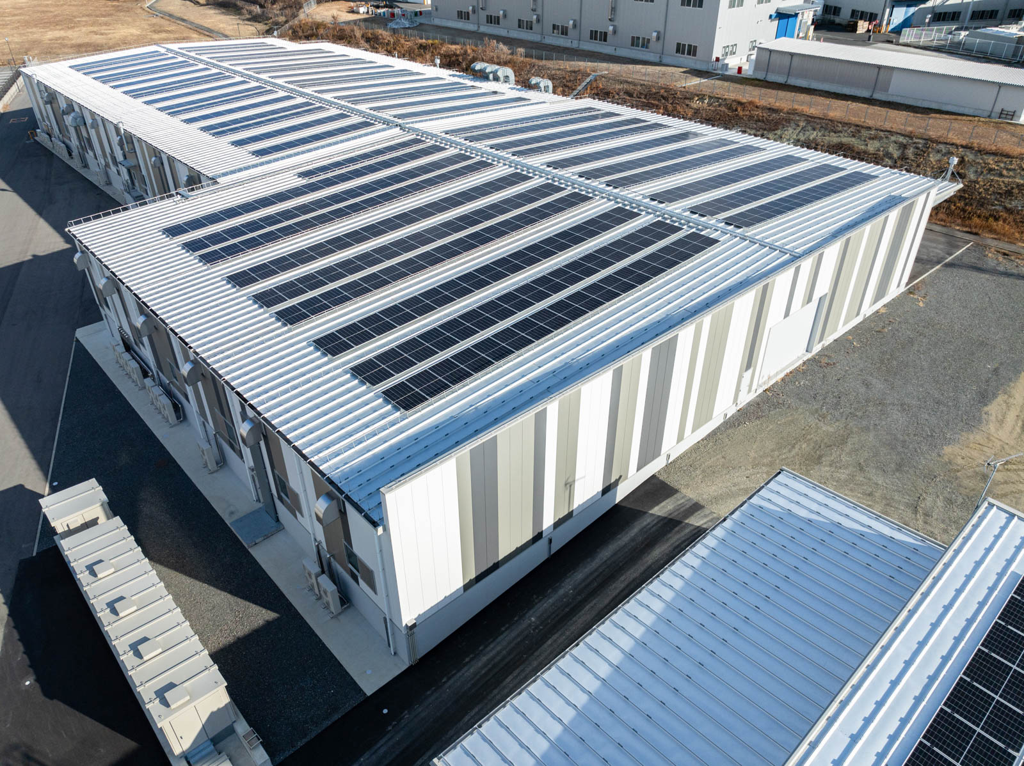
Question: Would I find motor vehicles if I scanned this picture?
No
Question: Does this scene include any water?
No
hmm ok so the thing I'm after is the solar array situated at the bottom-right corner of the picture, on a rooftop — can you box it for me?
[904,577,1024,766]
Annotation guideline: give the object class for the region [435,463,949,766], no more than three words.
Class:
warehouse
